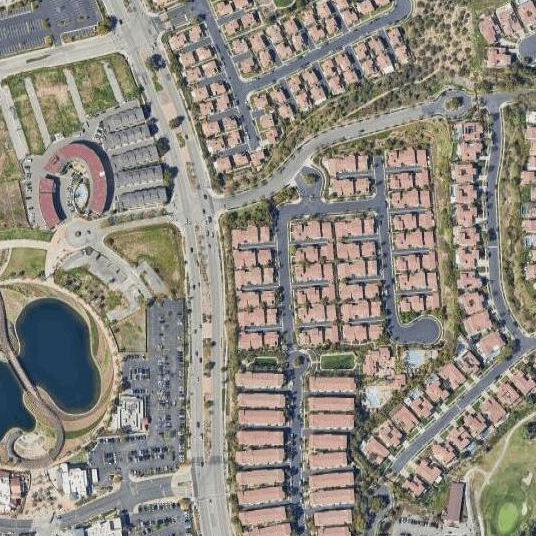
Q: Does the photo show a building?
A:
Yes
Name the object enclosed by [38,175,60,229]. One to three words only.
building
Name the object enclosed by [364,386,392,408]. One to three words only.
swimming pool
